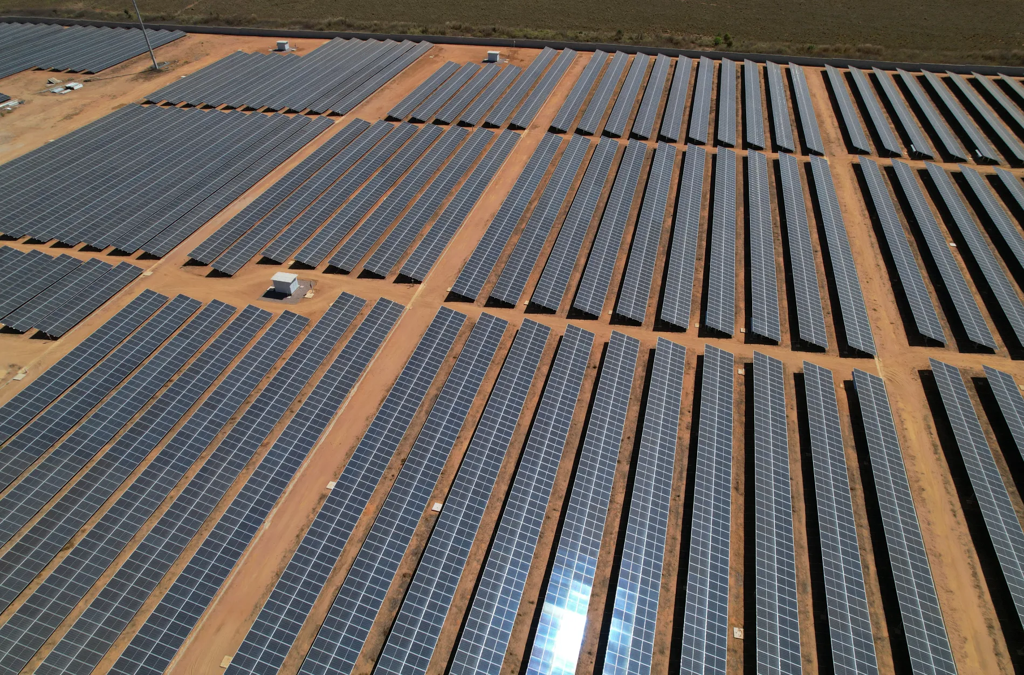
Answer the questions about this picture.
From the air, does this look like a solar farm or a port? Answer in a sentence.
It's a solar farm.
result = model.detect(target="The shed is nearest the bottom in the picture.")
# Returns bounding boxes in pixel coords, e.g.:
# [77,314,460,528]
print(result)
[269,271,300,296]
